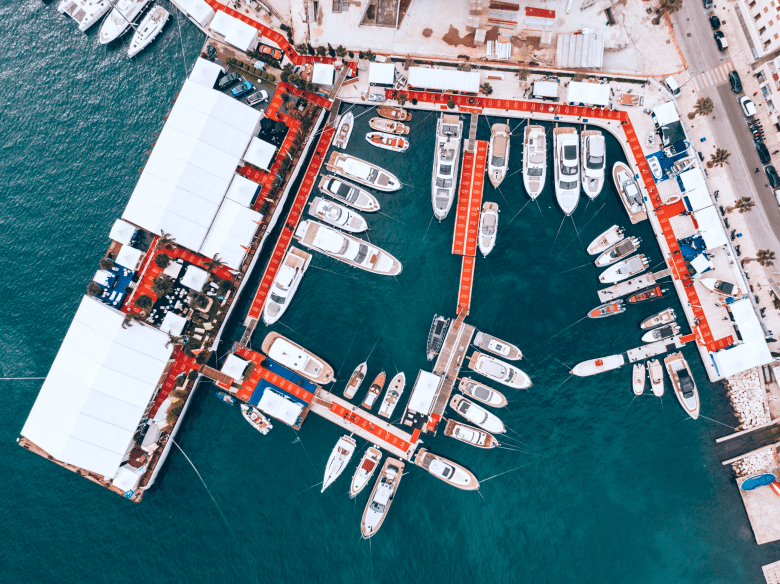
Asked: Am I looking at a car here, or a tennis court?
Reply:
car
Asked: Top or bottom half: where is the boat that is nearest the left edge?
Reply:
top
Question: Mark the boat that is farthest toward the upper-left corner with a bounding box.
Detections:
[61,0,118,37]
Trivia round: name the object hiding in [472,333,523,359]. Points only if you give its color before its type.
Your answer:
white boat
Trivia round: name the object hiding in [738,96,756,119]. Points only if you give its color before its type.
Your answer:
white car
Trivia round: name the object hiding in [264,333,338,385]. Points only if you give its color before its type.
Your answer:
white boat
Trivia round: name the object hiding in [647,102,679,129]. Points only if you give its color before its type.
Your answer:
white tent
